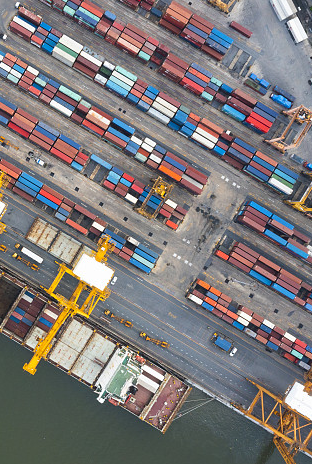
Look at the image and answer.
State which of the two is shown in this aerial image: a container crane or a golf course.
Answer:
container crane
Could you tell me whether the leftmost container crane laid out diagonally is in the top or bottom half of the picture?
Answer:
bottom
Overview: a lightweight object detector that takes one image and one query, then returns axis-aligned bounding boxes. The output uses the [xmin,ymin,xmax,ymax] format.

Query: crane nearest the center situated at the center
[133,179,178,221]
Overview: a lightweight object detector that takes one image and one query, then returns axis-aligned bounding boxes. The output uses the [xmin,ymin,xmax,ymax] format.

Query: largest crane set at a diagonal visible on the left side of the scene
[20,236,118,380]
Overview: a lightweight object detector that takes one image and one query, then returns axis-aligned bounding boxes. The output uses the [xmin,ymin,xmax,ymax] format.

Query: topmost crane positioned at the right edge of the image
[263,105,312,155]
